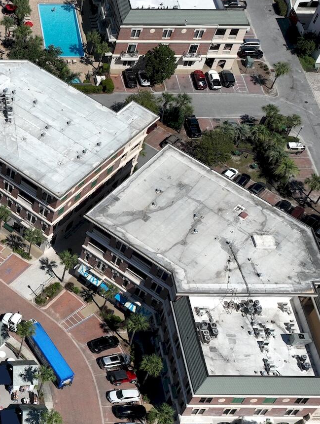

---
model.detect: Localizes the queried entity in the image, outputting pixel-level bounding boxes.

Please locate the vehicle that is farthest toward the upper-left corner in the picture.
[121,68,139,90]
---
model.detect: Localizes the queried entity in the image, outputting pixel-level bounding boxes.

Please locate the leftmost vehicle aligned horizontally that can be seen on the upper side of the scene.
[161,134,185,148]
